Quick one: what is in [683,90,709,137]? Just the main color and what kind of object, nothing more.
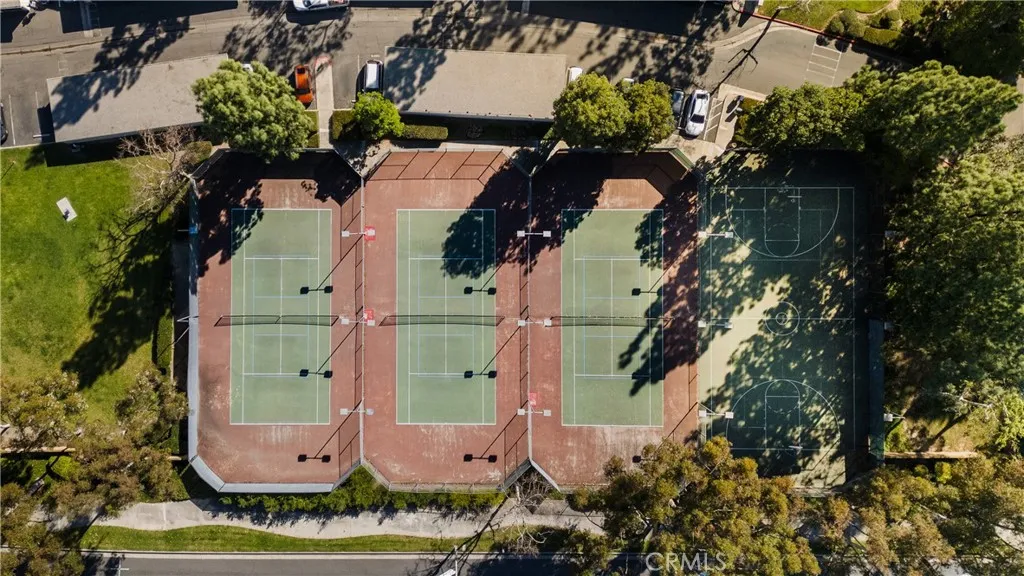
white car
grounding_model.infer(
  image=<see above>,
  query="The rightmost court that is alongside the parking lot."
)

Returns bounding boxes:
[697,153,870,487]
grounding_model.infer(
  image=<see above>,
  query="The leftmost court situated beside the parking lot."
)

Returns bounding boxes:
[198,154,367,485]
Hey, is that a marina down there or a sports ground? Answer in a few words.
sports ground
